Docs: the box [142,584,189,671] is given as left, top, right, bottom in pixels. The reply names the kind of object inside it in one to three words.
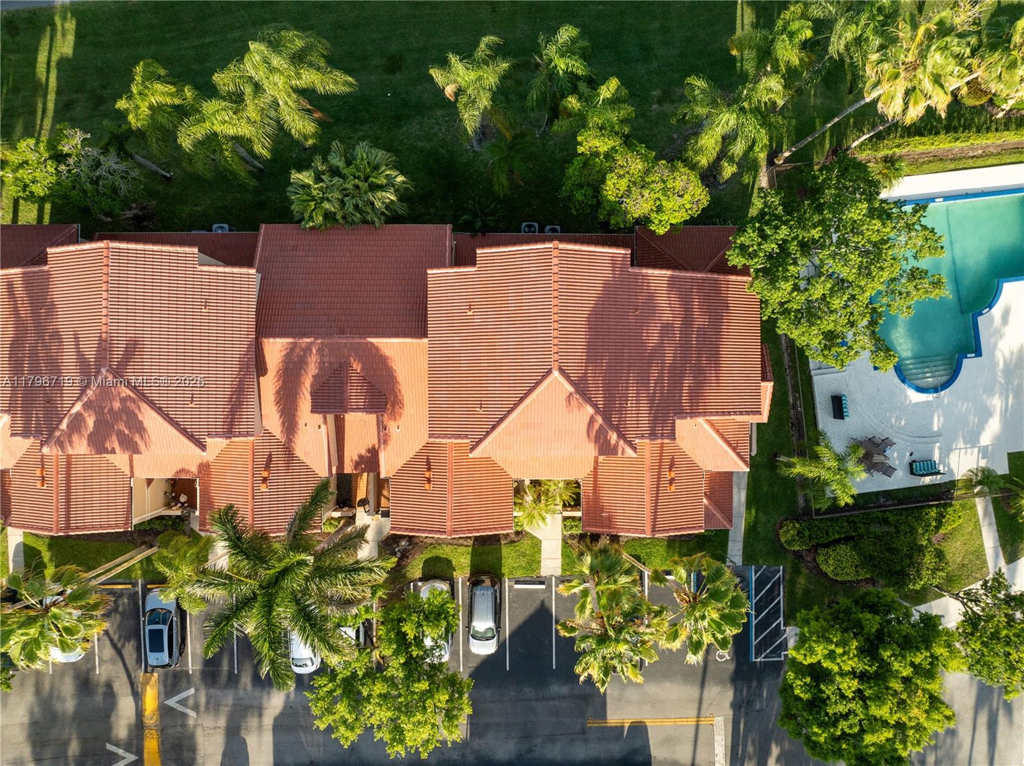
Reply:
car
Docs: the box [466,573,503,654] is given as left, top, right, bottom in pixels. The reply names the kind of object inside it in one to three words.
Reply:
car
